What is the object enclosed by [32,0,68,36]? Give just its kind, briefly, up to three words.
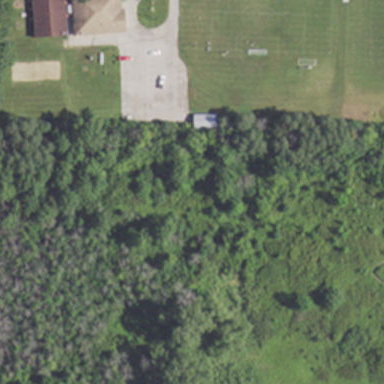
building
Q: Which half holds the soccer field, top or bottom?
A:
top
